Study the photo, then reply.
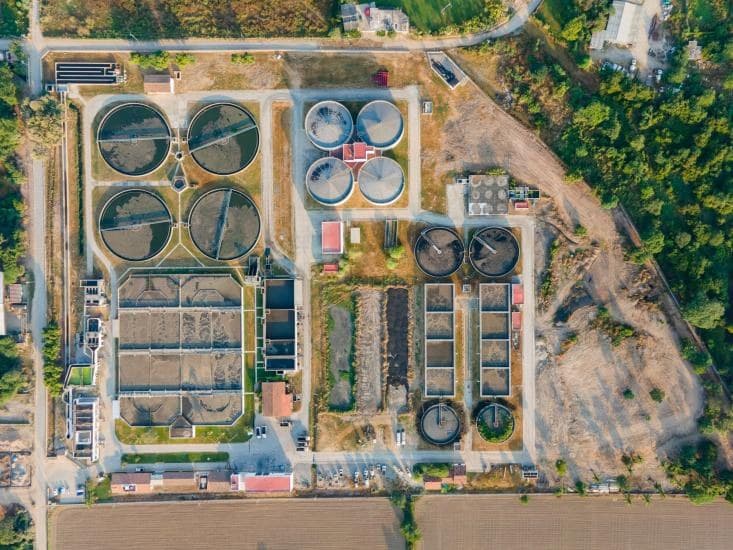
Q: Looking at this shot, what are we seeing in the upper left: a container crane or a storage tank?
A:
storage tank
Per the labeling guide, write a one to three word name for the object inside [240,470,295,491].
building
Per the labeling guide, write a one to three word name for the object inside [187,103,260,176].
storage tank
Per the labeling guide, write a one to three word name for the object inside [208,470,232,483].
house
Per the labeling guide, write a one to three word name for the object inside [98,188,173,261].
storage tank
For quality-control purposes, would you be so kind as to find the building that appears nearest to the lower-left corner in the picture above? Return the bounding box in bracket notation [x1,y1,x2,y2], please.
[0,450,34,487]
